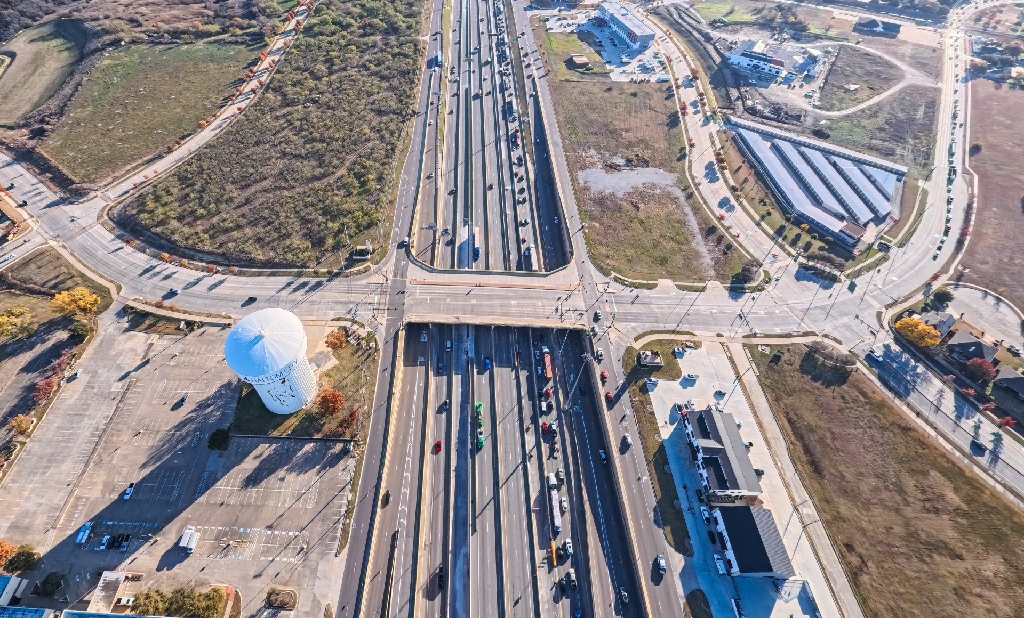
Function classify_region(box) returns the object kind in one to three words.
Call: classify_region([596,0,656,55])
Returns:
building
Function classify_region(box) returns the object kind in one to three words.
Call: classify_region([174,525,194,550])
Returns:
vehicle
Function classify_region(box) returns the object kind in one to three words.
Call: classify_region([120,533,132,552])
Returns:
vehicle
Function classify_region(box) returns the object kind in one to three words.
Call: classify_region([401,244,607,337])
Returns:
overpass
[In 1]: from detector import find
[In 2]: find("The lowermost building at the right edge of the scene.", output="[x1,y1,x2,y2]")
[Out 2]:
[992,365,1024,409]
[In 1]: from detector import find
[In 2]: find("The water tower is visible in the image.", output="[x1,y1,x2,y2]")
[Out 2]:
[225,309,319,415]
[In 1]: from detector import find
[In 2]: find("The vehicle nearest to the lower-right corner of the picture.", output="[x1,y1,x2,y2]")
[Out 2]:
[971,439,987,451]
